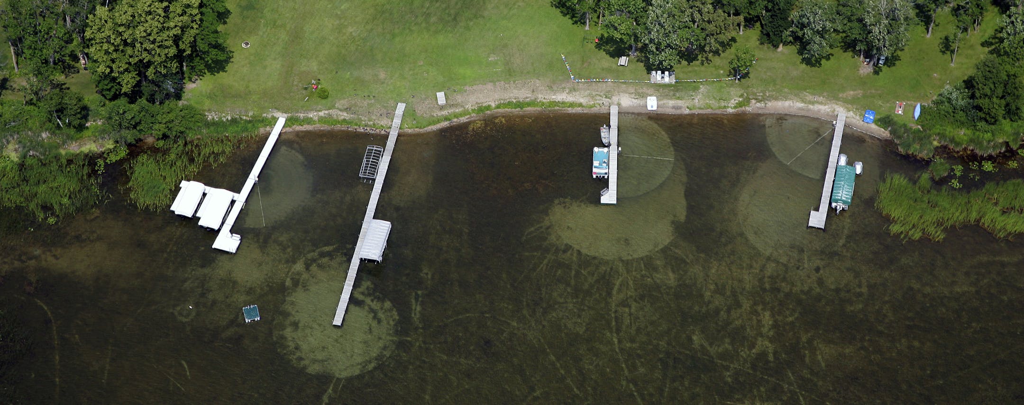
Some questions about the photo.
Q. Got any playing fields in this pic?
No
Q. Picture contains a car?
No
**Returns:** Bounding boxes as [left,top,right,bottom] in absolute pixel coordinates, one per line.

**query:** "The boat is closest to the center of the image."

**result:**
[593,146,608,183]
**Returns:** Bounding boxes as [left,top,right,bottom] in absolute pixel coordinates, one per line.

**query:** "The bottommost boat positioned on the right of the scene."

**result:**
[831,202,848,215]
